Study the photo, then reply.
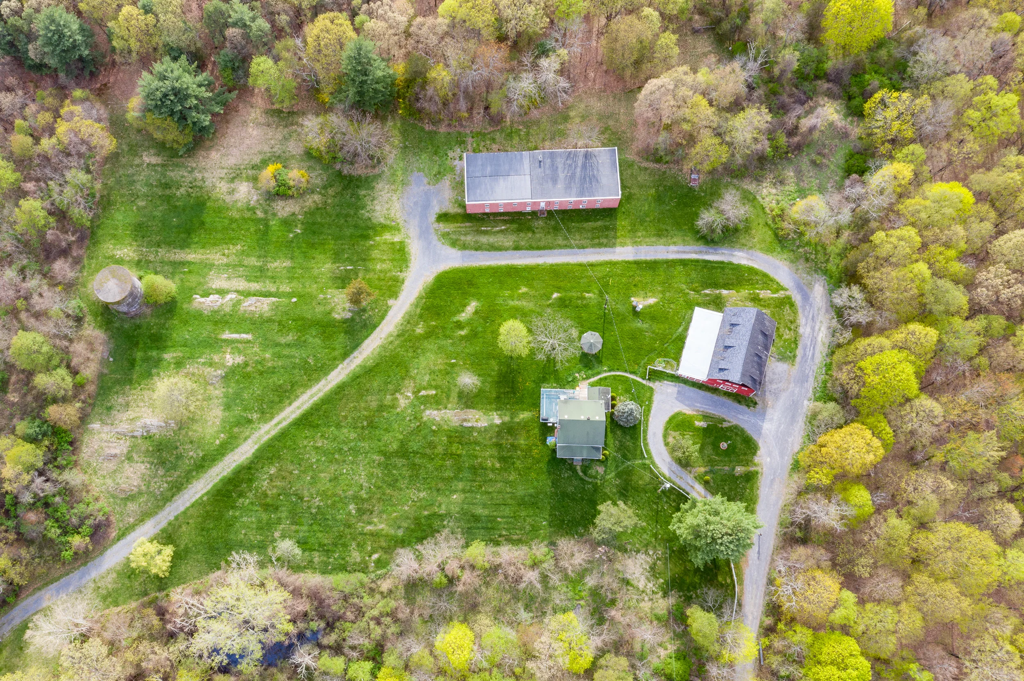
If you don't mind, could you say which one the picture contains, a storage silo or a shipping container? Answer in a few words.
storage silo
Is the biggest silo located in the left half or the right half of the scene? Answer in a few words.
left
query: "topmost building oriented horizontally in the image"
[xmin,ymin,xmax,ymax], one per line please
[463,145,622,213]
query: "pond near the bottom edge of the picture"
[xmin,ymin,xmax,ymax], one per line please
[209,621,328,676]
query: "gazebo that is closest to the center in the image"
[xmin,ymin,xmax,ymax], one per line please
[580,333,603,358]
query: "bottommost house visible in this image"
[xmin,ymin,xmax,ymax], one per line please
[554,385,612,466]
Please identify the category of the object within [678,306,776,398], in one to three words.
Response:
barn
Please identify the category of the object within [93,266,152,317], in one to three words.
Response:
silo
